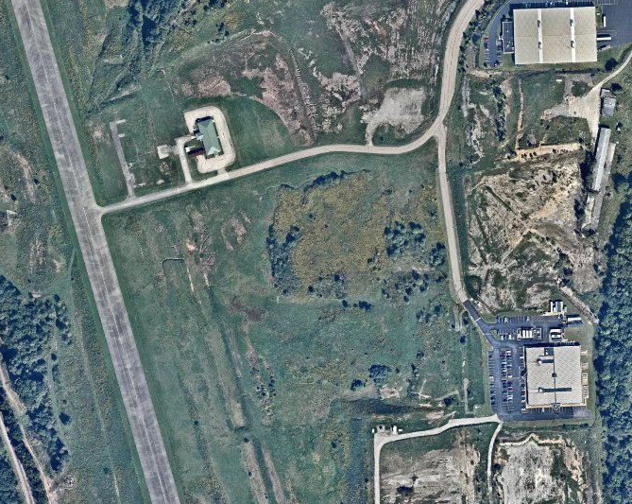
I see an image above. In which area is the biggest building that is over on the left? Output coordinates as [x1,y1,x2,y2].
[198,120,221,155]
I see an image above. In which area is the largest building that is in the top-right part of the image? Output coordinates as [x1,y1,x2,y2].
[514,7,598,65]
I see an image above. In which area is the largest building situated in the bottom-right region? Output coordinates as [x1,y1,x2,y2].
[522,346,584,410]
